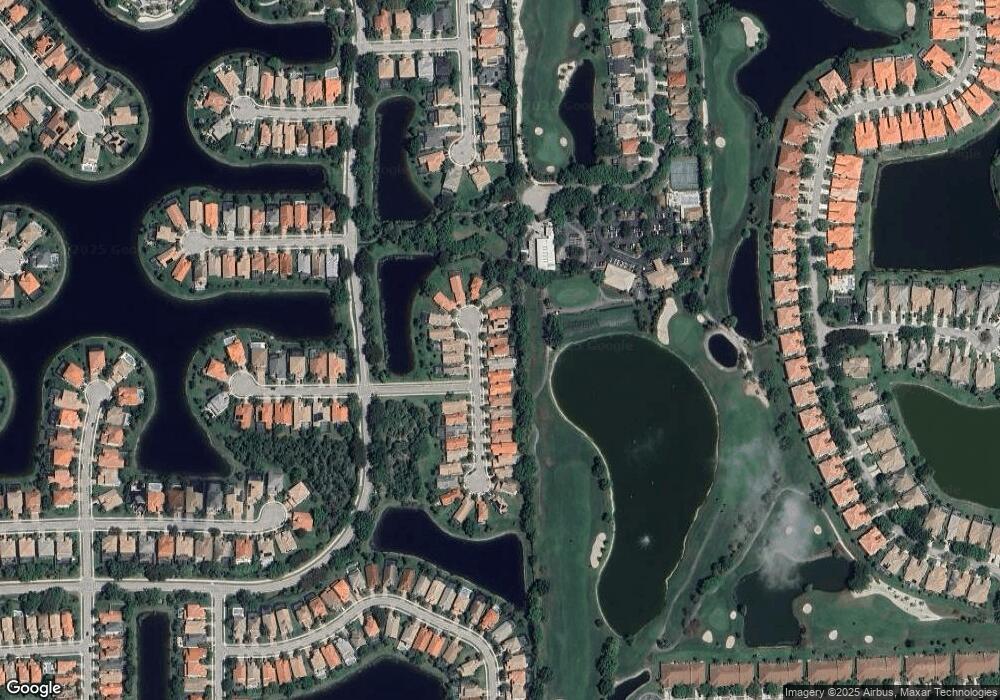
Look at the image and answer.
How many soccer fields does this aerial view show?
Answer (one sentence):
The picture shows no soccer fields.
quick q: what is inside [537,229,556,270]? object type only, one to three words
building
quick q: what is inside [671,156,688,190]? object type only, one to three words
tennis court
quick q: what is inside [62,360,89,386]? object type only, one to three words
house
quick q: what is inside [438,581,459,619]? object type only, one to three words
house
